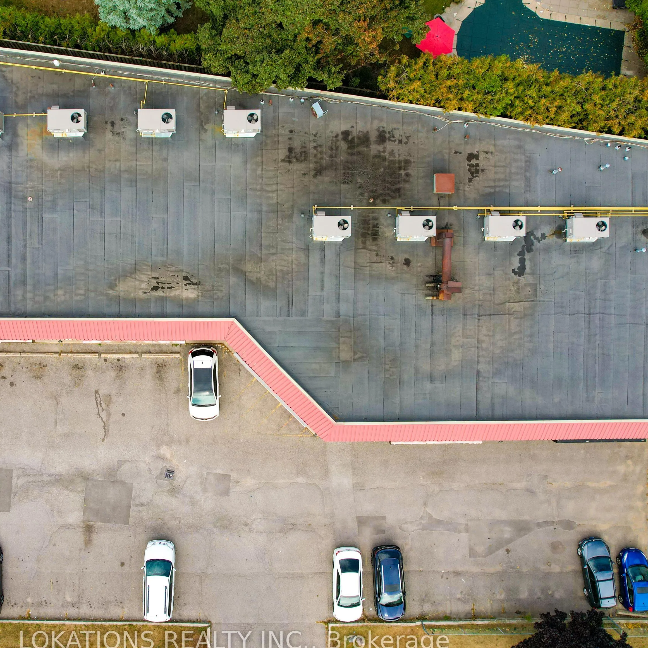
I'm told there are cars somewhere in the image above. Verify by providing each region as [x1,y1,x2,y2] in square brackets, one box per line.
[140,540,178,620]
[577,536,620,611]
[184,345,222,422]
[372,543,410,623]
[617,548,648,611]
[331,546,367,622]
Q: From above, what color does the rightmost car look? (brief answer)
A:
blue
